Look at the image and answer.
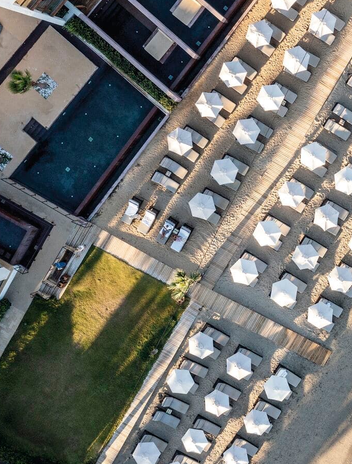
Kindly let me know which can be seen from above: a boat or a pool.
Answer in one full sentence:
It is a pool that can be seen here.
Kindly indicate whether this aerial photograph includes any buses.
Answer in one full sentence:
No, I can't see a single bus in this photo.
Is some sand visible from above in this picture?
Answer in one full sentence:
Yes, some sand is visible.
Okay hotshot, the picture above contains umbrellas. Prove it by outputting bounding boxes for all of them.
[246,19,275,47]
[246,405,274,436]
[307,299,337,328]
[269,277,299,306]
[135,438,161,464]
[234,120,260,147]
[203,391,232,417]
[168,368,198,397]
[277,179,307,207]
[300,143,330,171]
[290,240,318,267]
[313,206,341,231]
[220,58,246,88]
[168,127,195,156]
[263,373,292,402]
[212,158,242,184]
[286,47,314,76]
[335,168,352,195]
[268,0,295,12]
[190,193,218,218]
[230,256,257,285]
[255,222,283,249]
[226,350,255,379]
[224,445,250,464]
[180,425,209,455]
[257,83,286,111]
[189,330,216,360]
[309,10,338,37]
[195,91,223,121]
[328,264,352,293]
